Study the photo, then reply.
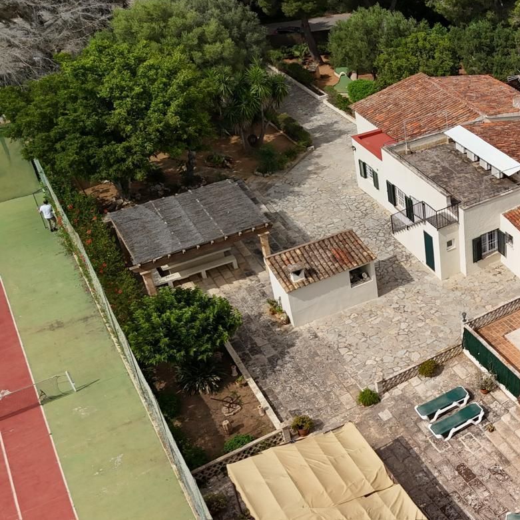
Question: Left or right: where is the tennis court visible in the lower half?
left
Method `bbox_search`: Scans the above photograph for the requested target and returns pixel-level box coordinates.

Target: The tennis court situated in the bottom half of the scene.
[0,188,199,520]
